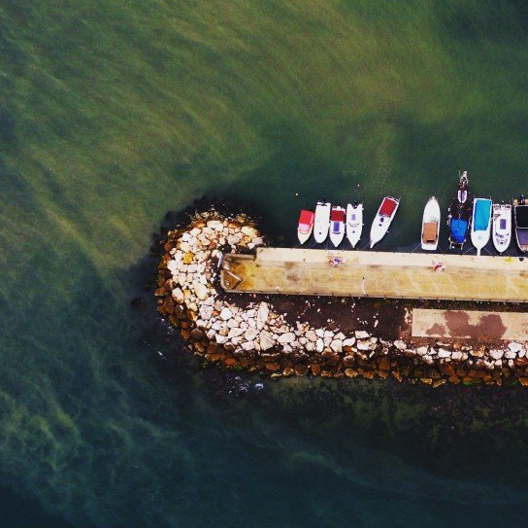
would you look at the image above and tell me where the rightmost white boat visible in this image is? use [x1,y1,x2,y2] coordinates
[492,202,512,255]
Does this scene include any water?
Yes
